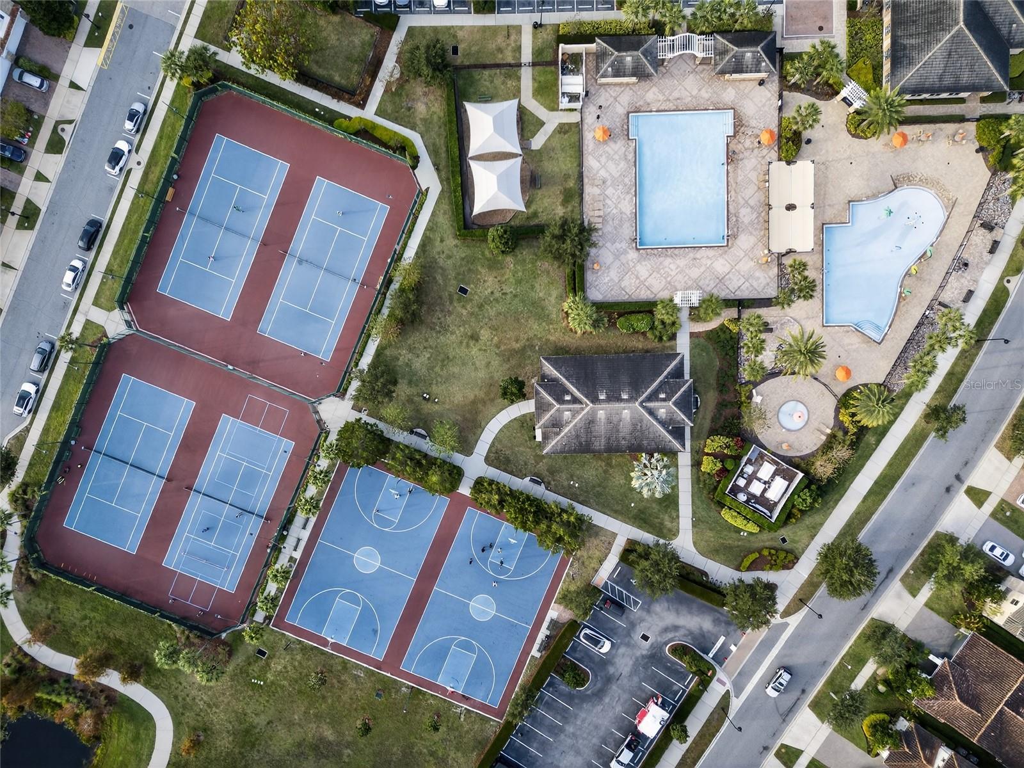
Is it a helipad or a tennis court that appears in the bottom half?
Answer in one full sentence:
What appears in the bottom half is a tennis court.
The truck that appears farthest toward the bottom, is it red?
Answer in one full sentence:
No, the truck that appears farthest toward the bottom is white.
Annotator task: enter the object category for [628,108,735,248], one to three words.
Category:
swimming pool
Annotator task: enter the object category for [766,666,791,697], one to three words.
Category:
car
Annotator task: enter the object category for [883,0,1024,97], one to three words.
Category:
building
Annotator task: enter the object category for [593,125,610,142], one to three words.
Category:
umbrella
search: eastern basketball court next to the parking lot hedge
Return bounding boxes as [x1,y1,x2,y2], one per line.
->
[388,494,574,721]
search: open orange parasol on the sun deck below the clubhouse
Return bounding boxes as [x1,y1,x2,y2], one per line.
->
[890,131,908,148]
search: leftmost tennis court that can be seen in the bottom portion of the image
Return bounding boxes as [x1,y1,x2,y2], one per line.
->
[36,332,225,597]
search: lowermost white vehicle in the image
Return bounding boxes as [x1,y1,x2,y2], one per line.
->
[608,736,640,768]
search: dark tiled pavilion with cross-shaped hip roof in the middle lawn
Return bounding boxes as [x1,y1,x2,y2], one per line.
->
[534,353,702,454]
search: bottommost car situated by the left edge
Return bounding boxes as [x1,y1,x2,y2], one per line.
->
[13,382,40,416]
